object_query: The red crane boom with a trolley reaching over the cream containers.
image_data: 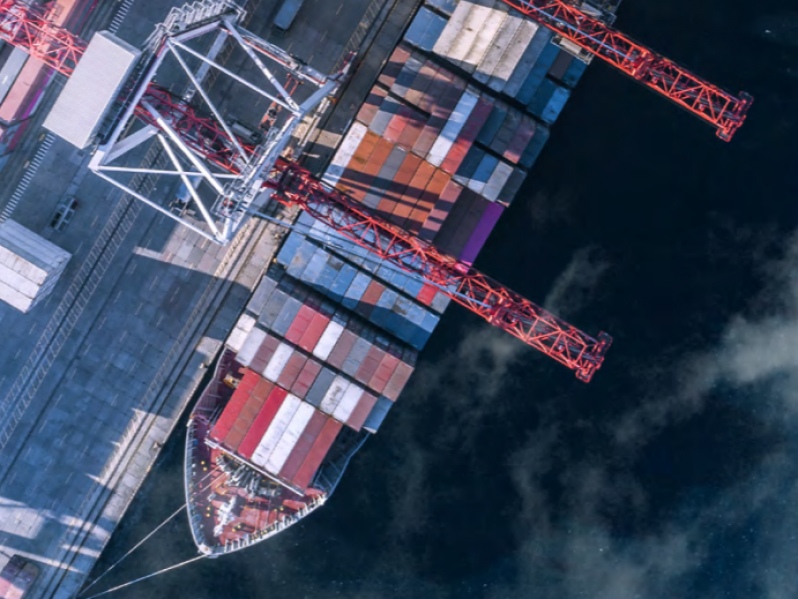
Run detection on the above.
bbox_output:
[495,0,747,139]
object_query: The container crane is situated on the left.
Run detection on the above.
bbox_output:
[0,0,613,377]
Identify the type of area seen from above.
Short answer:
port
